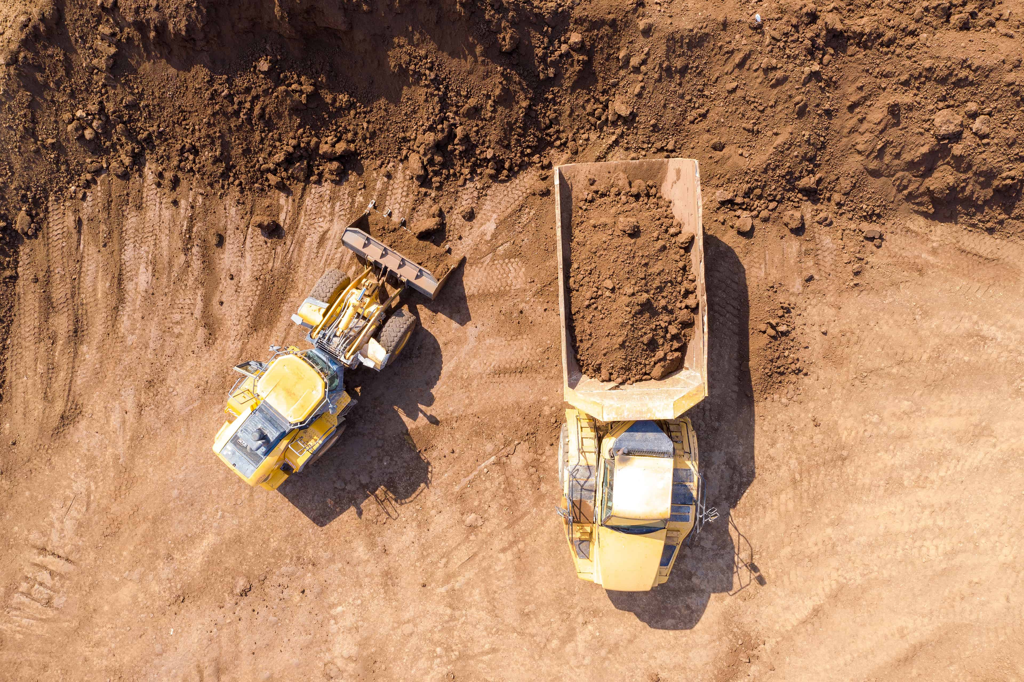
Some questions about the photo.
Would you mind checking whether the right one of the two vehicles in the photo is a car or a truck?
truck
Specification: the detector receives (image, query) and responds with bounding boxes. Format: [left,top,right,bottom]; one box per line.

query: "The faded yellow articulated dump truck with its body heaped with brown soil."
[555,160,721,592]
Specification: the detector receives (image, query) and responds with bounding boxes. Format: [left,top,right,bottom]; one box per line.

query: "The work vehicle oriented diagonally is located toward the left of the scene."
[214,197,464,490]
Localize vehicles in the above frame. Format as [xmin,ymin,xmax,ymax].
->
[555,160,721,592]
[214,197,464,490]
